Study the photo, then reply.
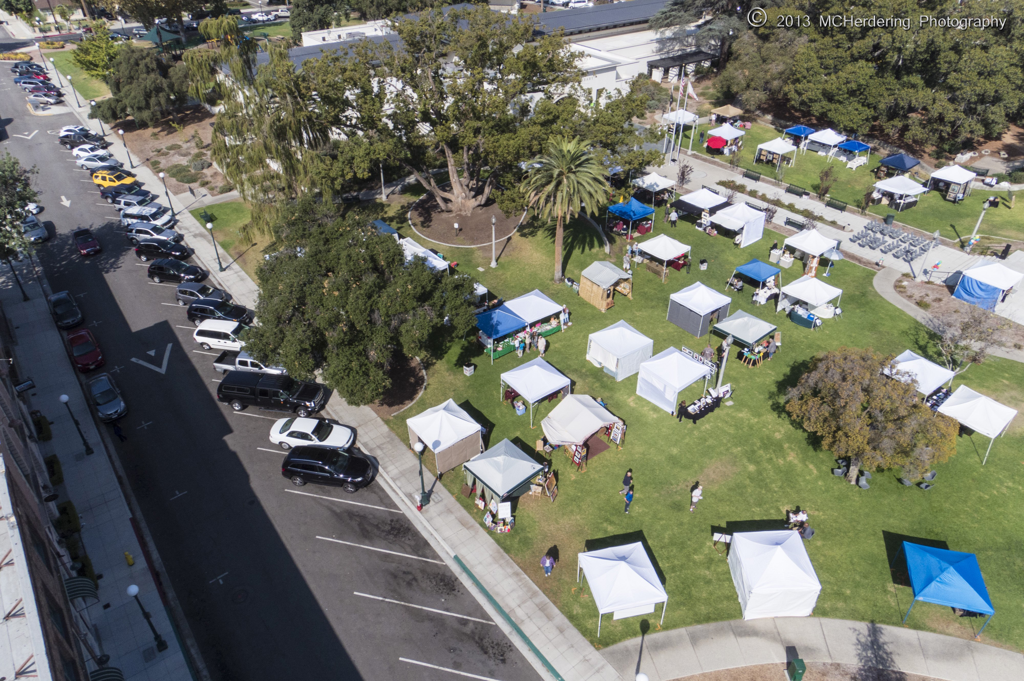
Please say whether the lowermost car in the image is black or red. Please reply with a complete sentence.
The color of the lowermost car is black.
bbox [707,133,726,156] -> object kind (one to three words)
umbrella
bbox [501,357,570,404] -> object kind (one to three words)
tent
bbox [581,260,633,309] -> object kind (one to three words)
shed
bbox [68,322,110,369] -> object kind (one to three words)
car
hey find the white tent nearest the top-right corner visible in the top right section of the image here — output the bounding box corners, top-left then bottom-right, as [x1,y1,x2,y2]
[926,165,976,205]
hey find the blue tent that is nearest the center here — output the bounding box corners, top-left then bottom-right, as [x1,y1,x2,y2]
[473,298,524,343]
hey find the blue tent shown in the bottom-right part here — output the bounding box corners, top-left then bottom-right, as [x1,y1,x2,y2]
[884,542,994,648]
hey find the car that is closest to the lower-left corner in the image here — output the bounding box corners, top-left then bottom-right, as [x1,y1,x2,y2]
[86,365,134,420]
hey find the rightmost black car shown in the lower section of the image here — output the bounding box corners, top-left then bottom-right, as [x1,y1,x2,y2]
[280,443,378,497]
